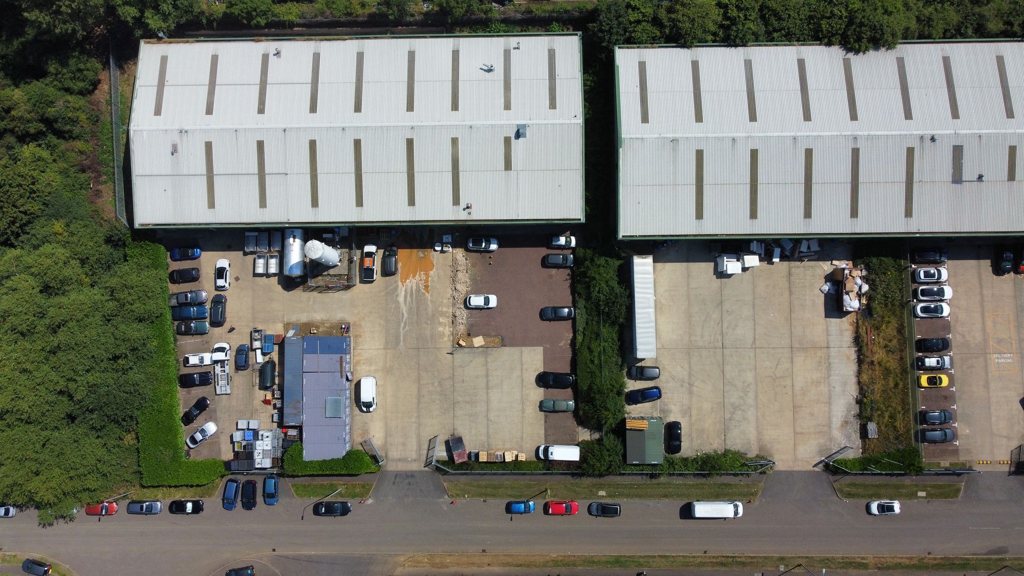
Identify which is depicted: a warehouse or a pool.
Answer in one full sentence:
Visible in the photo is a warehouse.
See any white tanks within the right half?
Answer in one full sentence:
No, there's no white tank to be seen within the right half.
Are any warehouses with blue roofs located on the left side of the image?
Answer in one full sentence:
No, looking on the left side of the image, there is no warehouse with a blue roof.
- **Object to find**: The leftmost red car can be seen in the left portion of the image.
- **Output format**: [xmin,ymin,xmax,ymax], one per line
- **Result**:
[86,500,120,517]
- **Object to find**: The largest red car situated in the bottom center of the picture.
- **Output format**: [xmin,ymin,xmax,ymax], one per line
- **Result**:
[545,500,579,516]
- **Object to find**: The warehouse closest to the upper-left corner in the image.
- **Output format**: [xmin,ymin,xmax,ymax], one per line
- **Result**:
[128,32,586,234]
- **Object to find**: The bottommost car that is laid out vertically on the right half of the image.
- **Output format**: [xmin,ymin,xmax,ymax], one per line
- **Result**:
[667,421,683,455]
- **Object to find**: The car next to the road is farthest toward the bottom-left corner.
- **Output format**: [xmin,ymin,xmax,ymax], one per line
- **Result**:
[22,556,54,576]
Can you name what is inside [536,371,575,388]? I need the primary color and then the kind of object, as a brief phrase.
black car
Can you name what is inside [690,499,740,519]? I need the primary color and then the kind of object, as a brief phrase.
white vehicle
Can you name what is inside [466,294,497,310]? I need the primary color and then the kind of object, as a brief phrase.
white car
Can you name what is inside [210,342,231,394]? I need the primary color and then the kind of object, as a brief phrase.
white truck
